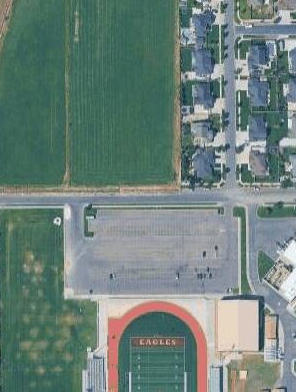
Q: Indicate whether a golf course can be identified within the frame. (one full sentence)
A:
No, there's no golf course here.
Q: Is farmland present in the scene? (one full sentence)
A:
Yes, farmland can be seen from above here.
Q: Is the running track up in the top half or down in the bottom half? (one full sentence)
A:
You can find the running track in the bottom half.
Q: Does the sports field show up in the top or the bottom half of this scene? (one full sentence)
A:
It is in the bottom half that the sports field appears.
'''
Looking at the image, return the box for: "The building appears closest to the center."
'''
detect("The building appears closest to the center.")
[192,150,215,178]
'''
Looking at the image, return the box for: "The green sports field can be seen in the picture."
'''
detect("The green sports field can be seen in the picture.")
[118,313,196,392]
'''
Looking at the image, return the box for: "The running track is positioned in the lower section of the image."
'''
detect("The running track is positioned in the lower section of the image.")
[107,301,207,392]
